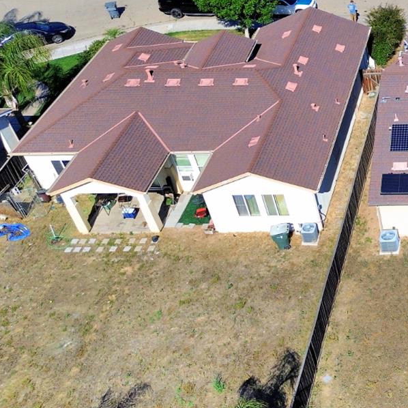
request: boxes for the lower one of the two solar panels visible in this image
[379,173,408,193]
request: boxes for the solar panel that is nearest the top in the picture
[389,122,408,150]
